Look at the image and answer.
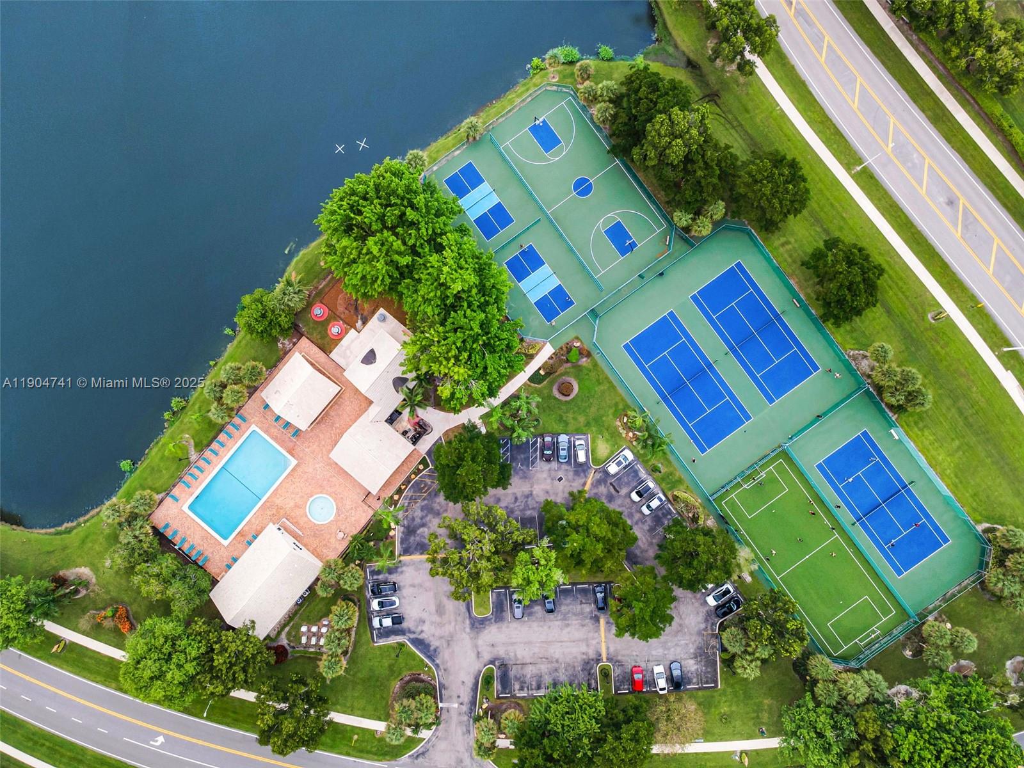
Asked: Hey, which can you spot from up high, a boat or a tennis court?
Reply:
tennis court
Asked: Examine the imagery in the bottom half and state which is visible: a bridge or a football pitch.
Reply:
football pitch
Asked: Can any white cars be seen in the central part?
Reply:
Yes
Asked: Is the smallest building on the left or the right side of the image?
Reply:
left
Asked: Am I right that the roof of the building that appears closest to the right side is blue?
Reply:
No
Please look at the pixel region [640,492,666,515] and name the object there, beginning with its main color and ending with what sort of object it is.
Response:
white car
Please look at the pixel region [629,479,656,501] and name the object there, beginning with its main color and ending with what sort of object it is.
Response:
white car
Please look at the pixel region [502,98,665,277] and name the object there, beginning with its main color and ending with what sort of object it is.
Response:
green basketball court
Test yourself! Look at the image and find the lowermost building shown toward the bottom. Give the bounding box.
[210,522,323,640]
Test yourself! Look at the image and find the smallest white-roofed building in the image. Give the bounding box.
[261,352,348,431]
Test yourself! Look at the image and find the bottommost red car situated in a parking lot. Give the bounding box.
[631,664,644,691]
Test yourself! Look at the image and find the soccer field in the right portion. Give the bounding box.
[715,448,909,659]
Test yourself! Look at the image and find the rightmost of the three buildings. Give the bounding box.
[330,330,421,495]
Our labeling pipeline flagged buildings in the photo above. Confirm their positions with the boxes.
[210,522,323,640]
[330,330,421,495]
[261,352,348,431]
